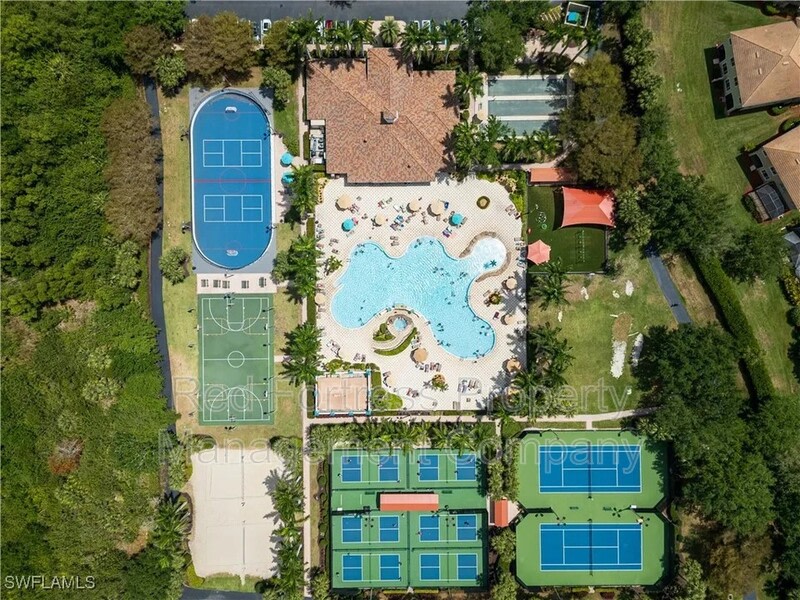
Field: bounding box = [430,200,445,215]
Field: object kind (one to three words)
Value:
umbrella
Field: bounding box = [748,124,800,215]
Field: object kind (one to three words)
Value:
house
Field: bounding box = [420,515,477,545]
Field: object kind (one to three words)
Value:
sports court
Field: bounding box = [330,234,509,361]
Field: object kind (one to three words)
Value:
swimming pool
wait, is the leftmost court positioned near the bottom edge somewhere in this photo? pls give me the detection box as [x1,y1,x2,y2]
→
[187,447,290,583]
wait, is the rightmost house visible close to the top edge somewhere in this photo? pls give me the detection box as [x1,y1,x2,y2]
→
[716,16,800,114]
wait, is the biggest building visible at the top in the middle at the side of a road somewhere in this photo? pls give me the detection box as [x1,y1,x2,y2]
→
[306,46,457,184]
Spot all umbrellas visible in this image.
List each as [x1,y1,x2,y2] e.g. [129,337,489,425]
[450,212,463,226]
[505,278,516,289]
[282,154,294,166]
[374,213,386,226]
[316,294,326,304]
[413,348,427,362]
[387,375,398,386]
[342,219,355,230]
[430,200,445,215]
[528,241,551,266]
[506,358,520,372]
[505,315,516,325]
[409,198,422,212]
[338,194,353,209]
